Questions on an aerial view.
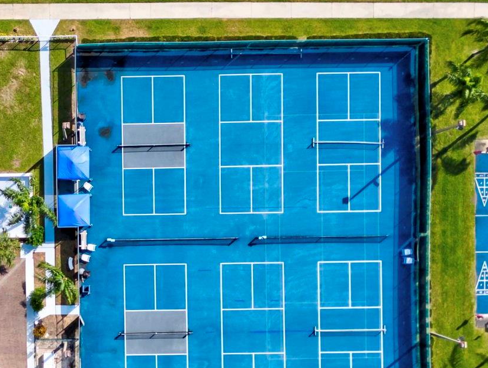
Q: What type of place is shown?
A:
sports ground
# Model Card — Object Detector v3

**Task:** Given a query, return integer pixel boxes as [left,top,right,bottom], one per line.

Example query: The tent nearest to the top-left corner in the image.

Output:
[59,147,90,182]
